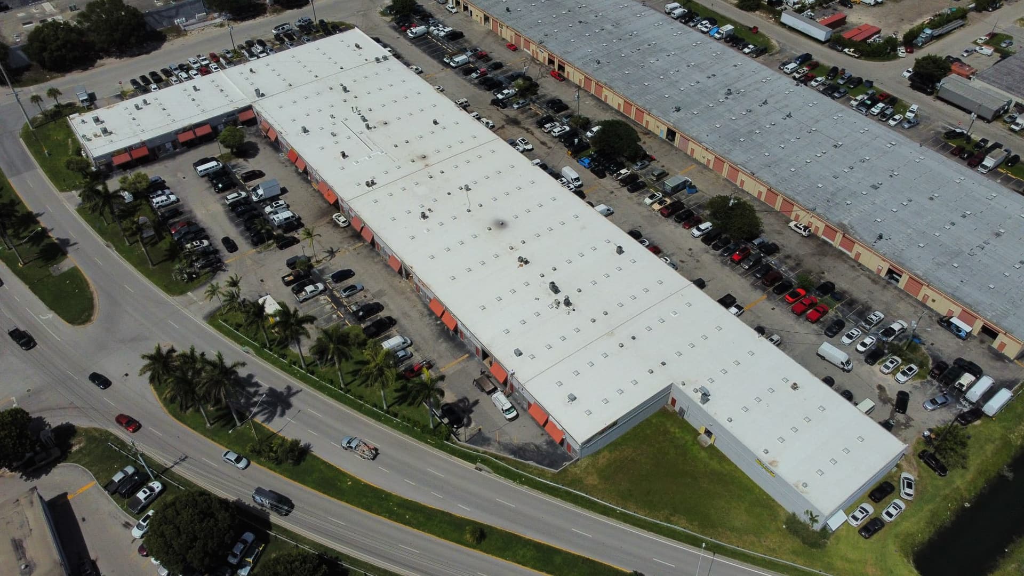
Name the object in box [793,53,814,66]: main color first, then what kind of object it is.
black vehicle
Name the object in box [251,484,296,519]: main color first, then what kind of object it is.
black van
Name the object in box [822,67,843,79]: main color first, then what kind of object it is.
black vehicle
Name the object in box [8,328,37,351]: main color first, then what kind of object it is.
black truck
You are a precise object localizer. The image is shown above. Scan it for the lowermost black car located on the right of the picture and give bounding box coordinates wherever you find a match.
[855,517,886,544]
